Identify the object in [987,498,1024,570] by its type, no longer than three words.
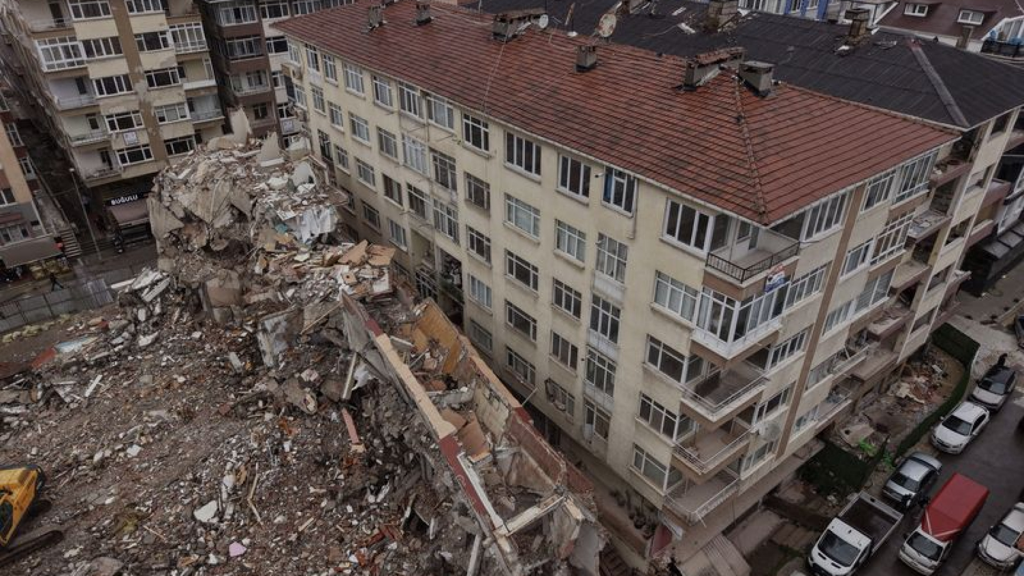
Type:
car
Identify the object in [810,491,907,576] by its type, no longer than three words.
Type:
truck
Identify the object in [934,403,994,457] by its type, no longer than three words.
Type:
car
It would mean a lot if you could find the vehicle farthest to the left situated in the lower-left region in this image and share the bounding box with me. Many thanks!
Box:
[0,462,60,574]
